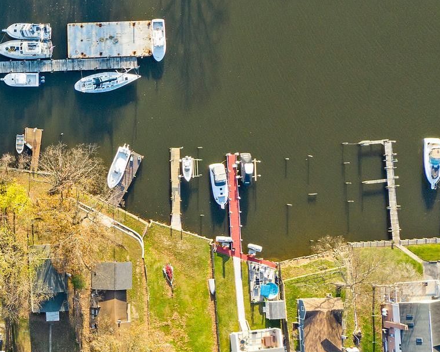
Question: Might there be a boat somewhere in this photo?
Yes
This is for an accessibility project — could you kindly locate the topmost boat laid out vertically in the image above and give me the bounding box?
[151,20,165,62]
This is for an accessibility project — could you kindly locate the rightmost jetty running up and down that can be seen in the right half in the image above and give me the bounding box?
[379,138,404,244]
